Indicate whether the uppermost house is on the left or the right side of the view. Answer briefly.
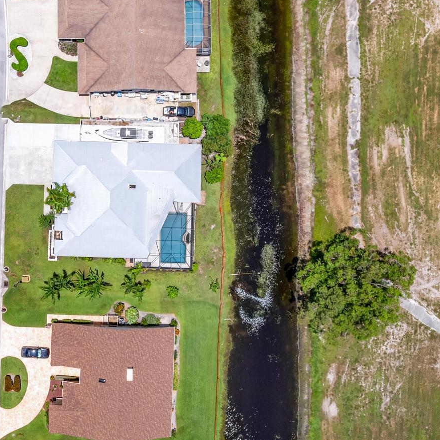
left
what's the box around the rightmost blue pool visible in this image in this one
[186,0,205,48]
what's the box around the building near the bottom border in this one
[48,322,175,440]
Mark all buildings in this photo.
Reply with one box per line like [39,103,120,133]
[48,322,175,440]
[52,140,202,258]
[57,0,197,94]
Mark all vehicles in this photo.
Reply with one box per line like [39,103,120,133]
[163,104,195,119]
[21,346,49,360]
